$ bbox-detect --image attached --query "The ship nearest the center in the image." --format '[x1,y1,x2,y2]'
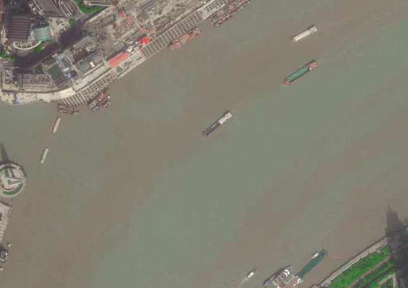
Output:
[202,111,233,136]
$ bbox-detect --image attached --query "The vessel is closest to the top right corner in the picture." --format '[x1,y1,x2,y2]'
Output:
[292,26,319,39]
